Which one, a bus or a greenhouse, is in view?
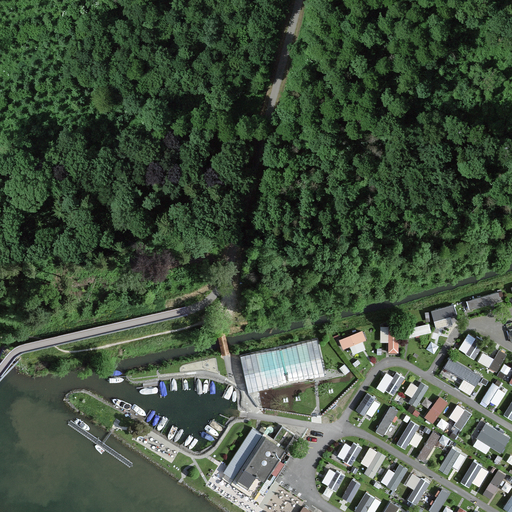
greenhouse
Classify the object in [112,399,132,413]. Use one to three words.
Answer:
boat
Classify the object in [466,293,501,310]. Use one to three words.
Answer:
shed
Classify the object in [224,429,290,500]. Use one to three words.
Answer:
building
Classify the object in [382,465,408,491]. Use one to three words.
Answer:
house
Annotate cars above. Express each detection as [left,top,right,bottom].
[307,436,318,442]
[310,430,324,437]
